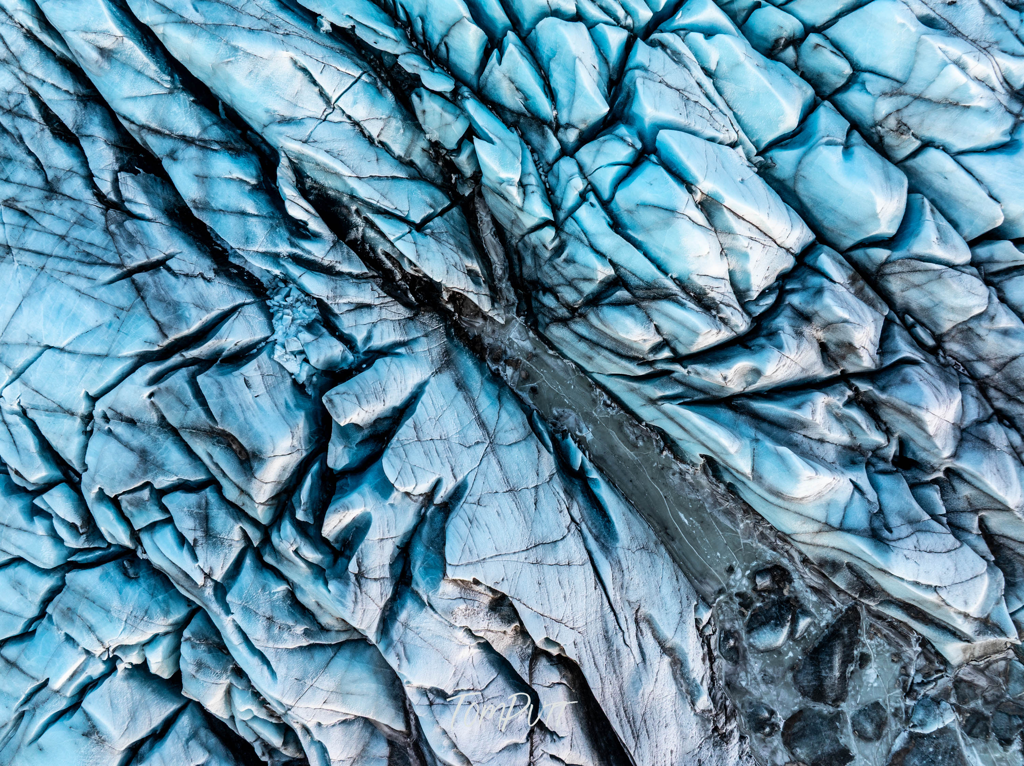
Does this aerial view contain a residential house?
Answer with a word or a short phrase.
No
